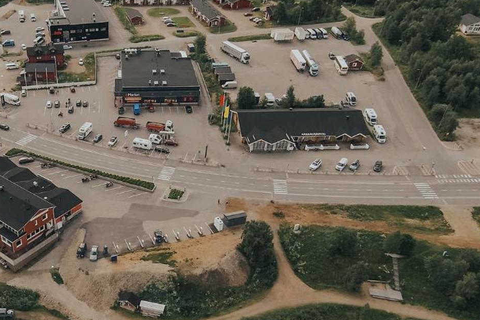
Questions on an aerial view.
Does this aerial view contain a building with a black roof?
Yes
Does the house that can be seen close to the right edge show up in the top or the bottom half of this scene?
top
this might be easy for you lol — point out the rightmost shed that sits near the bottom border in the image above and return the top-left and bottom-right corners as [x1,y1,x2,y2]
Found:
[143,301,167,320]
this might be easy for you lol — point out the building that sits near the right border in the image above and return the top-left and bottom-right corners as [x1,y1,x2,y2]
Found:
[448,13,480,38]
